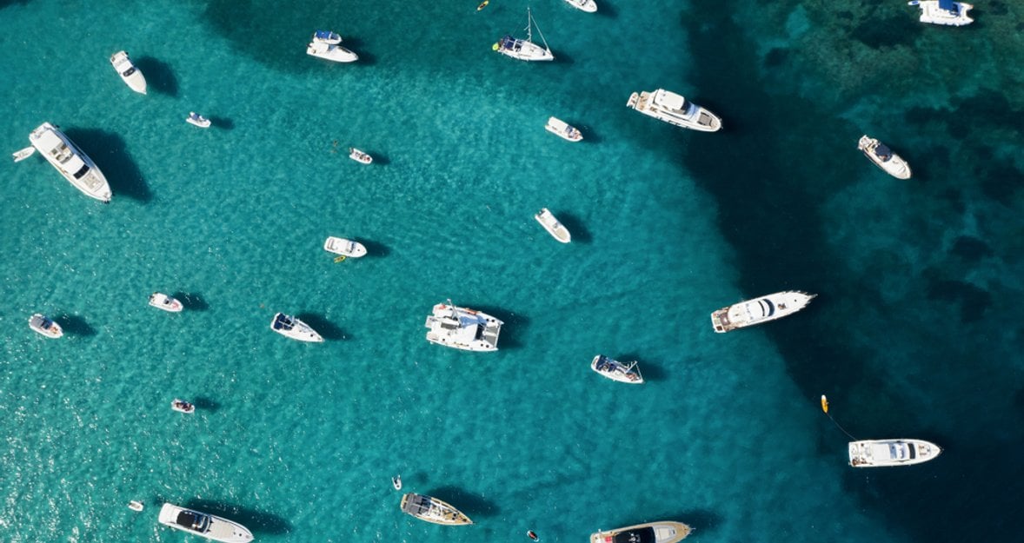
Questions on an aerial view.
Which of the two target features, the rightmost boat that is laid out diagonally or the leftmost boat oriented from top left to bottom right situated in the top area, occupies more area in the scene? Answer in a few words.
the leftmost boat oriented from top left to bottom right situated in the top area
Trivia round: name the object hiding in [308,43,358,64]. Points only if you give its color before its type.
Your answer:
white boat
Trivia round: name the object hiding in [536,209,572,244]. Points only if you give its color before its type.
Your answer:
white boat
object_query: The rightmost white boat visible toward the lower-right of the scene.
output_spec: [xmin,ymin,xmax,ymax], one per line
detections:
[845,438,945,468]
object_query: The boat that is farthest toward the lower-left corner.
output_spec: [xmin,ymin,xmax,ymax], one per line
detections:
[128,500,144,512]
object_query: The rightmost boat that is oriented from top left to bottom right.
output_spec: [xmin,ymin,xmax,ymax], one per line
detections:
[857,138,912,180]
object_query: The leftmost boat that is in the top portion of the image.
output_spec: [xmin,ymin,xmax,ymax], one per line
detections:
[13,146,35,162]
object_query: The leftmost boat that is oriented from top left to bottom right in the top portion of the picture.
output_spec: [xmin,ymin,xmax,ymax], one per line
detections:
[31,123,114,200]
